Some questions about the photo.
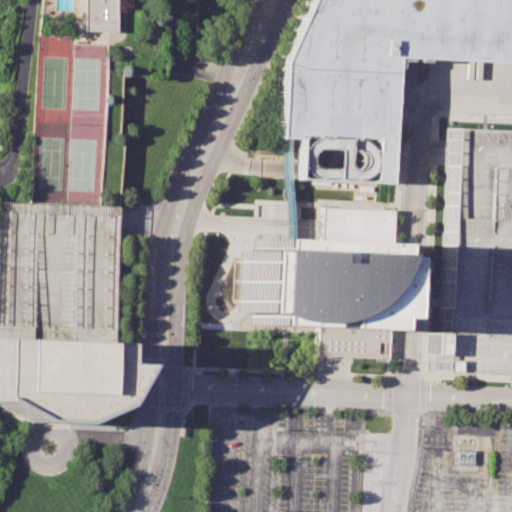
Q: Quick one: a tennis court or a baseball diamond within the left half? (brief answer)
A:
tennis court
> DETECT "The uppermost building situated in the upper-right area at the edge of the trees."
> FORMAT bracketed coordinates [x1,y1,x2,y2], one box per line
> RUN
[283,0,512,184]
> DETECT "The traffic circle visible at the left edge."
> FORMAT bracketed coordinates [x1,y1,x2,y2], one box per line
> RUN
[24,428,74,470]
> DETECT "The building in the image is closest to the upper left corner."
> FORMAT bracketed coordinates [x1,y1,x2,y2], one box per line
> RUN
[88,0,122,32]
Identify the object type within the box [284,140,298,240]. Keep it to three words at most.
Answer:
bridge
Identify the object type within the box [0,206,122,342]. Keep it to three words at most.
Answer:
building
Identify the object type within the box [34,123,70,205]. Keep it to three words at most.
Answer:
tennis court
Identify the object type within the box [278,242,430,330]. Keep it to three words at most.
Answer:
building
